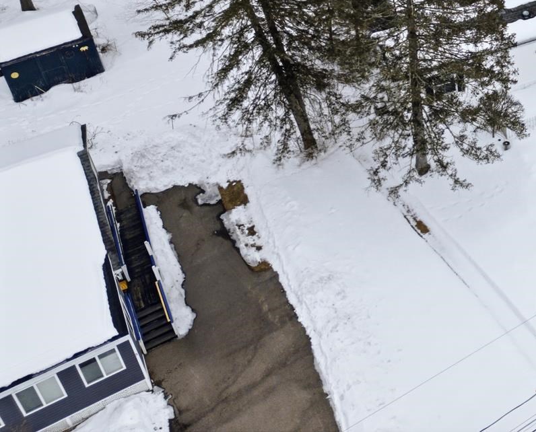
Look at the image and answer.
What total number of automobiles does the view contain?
0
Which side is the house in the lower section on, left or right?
left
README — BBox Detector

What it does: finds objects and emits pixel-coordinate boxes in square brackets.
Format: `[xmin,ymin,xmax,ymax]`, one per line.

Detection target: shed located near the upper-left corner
[0,2,102,97]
